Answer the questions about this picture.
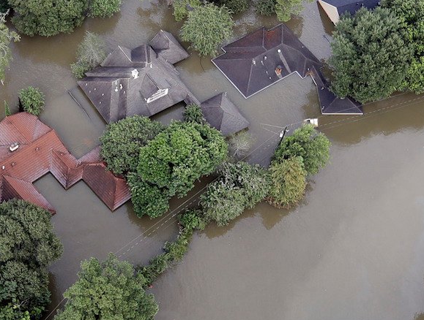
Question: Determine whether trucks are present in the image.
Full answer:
No, no truck can be seen from above.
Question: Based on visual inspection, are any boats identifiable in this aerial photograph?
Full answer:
No, the frame has no boat in it.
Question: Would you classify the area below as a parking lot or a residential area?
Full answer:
It's a residential area.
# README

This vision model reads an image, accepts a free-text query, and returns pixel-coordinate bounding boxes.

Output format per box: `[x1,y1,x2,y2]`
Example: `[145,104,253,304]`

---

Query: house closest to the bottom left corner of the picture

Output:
[0,111,131,228]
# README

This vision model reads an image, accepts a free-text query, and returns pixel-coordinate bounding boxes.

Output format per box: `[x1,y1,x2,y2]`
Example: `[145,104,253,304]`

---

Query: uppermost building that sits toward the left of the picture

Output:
[78,29,249,137]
